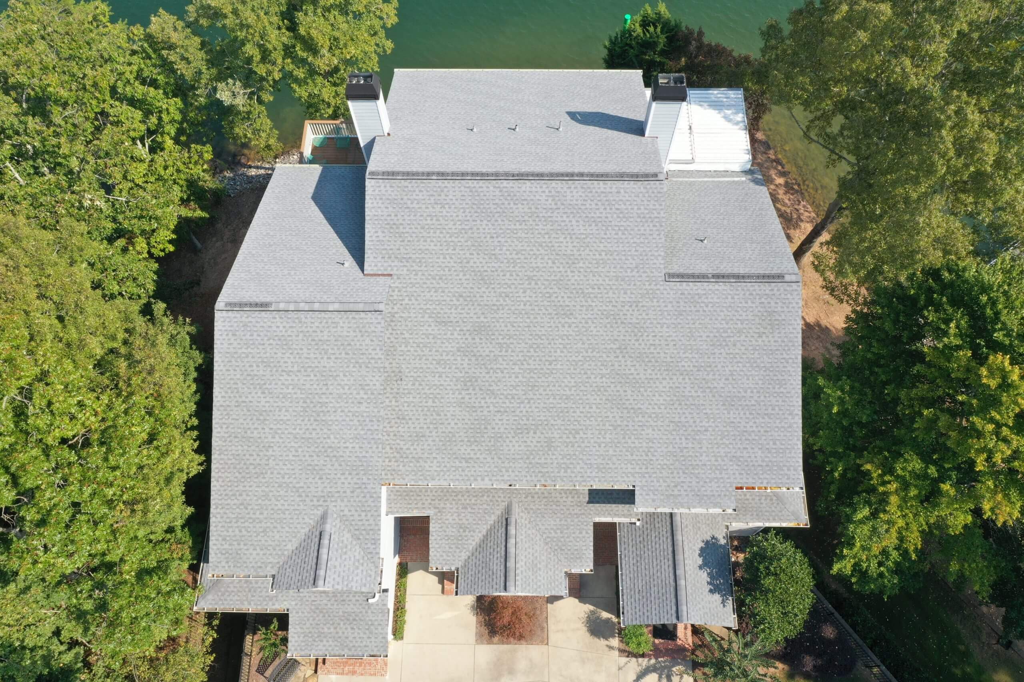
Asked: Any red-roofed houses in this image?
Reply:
No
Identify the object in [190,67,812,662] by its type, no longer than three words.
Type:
house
